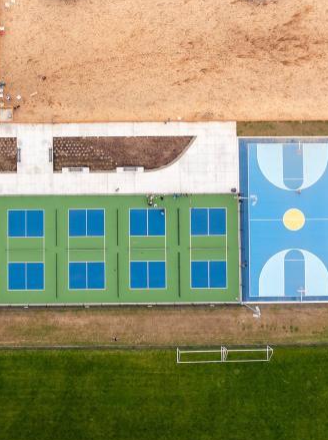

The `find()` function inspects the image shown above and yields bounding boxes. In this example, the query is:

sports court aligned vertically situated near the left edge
[8,209,45,290]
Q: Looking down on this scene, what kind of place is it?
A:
sports ground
